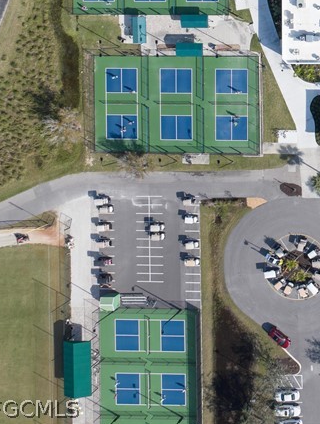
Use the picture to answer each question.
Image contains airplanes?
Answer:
No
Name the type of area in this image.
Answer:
sports ground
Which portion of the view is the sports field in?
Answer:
bottom left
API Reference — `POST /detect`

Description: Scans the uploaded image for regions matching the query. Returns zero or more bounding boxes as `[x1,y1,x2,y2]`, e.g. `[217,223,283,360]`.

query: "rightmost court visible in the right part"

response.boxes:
[204,56,259,154]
